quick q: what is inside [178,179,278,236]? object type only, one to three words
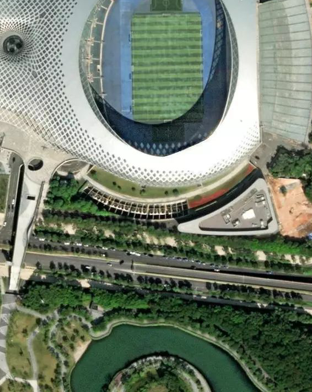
building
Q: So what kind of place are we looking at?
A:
sports ground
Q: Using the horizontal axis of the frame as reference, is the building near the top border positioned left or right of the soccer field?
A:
right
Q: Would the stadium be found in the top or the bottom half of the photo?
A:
top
